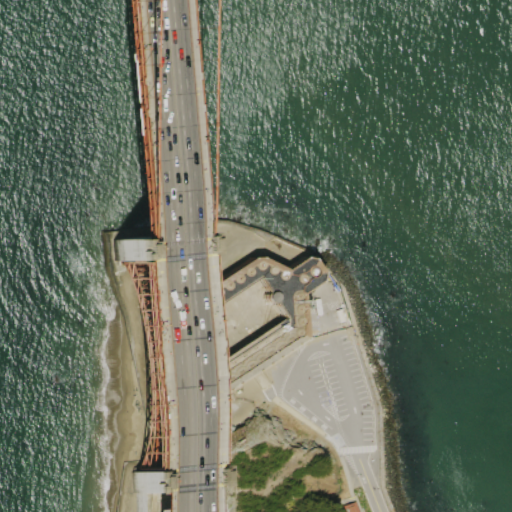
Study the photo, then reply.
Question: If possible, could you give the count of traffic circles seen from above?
0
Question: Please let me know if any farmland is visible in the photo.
No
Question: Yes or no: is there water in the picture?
Yes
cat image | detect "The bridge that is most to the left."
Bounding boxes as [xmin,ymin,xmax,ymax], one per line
[118,0,231,512]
